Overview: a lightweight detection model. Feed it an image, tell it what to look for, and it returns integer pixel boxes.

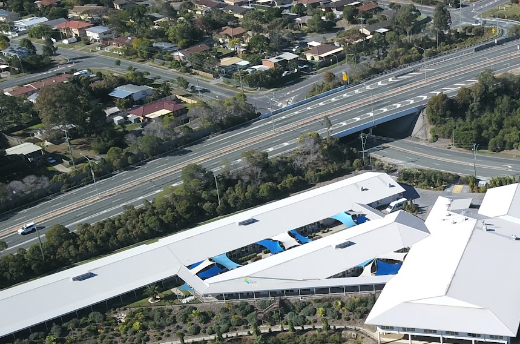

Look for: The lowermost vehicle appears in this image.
[16,219,36,232]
